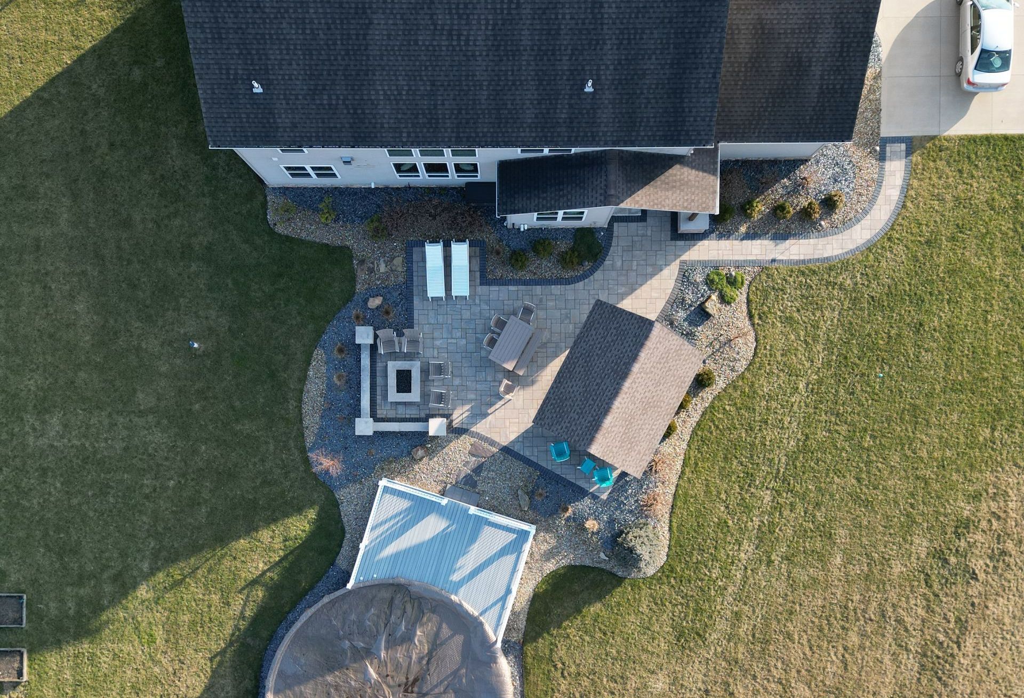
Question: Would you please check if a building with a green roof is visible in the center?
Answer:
No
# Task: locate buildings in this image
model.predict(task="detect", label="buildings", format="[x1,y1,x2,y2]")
[183,0,881,233]
[531,299,705,480]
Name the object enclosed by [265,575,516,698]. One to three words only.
swimming pool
